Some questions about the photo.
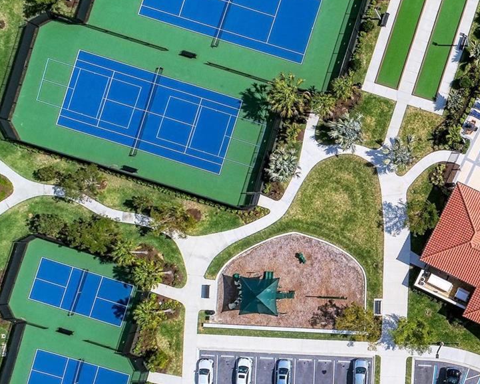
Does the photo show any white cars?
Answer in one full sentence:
Yes, there's a white car here.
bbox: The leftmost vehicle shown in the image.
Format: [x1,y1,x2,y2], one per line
[196,357,214,384]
